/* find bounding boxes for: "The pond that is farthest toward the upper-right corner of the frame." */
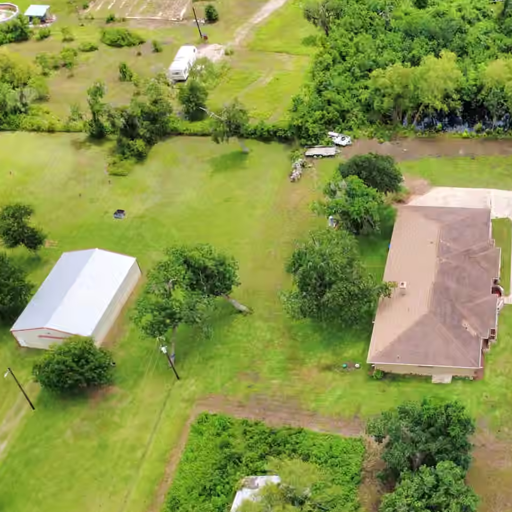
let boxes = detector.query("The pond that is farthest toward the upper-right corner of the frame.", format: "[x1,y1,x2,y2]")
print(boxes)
[403,110,512,134]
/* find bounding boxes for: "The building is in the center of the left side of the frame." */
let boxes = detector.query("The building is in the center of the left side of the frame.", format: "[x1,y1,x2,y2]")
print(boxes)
[12,248,143,352]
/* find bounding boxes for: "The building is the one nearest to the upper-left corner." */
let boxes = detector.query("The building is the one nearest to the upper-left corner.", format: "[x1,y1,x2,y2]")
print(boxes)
[24,5,53,27]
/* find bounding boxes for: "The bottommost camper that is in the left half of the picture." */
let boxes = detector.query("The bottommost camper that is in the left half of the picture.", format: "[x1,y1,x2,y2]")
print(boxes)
[171,44,196,81]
